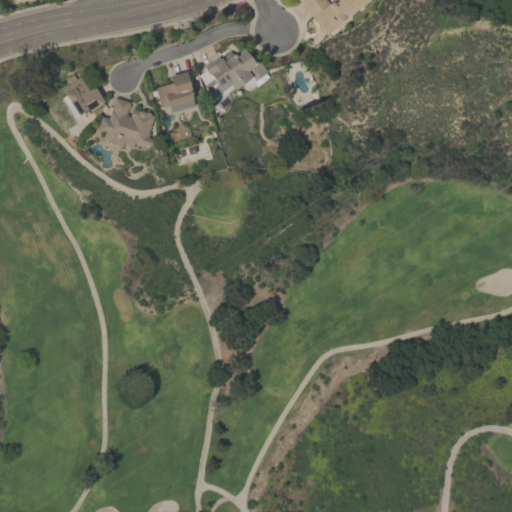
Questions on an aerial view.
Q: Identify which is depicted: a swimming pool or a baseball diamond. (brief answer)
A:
swimming pool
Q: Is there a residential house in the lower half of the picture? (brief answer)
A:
No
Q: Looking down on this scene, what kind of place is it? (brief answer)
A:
golf course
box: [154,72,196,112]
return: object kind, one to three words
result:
house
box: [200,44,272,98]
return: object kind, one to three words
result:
house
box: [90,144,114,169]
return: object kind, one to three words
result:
swimming pool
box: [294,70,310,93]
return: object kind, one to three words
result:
swimming pool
